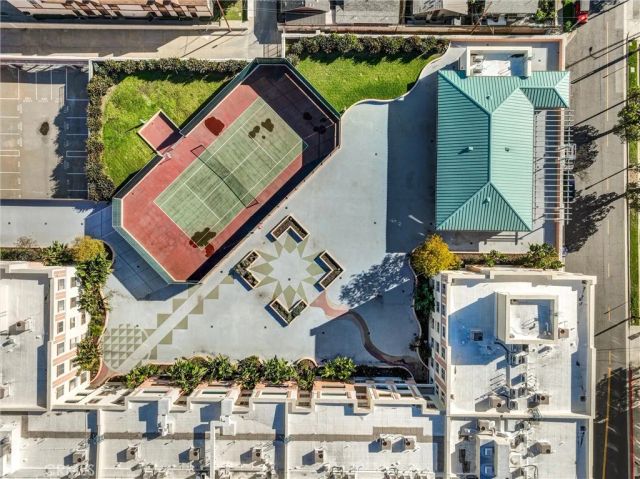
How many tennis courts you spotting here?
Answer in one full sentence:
The count comes to 1 tennis court.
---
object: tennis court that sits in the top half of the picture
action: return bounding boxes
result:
[122,64,342,285]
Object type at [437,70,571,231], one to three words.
building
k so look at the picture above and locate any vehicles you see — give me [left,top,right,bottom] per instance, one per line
[565,169,580,199]
[577,0,594,23]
